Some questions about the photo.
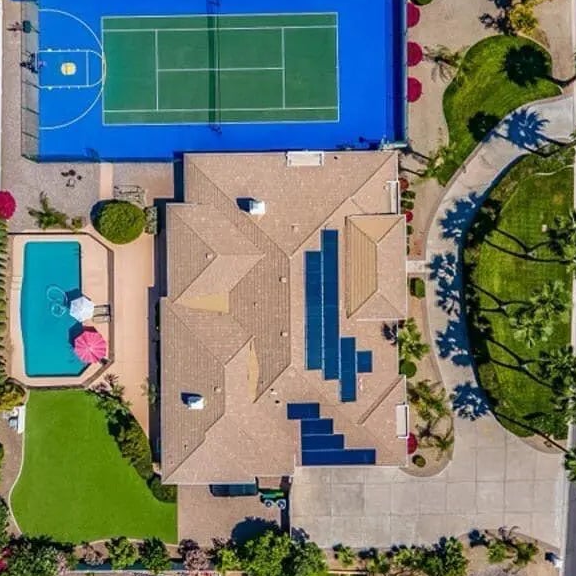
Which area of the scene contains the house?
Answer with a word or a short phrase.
center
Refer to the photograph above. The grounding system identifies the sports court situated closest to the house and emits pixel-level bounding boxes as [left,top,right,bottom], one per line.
[39,0,402,161]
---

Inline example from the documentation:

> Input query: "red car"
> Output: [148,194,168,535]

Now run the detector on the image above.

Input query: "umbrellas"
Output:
[70,297,94,322]
[75,330,107,362]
